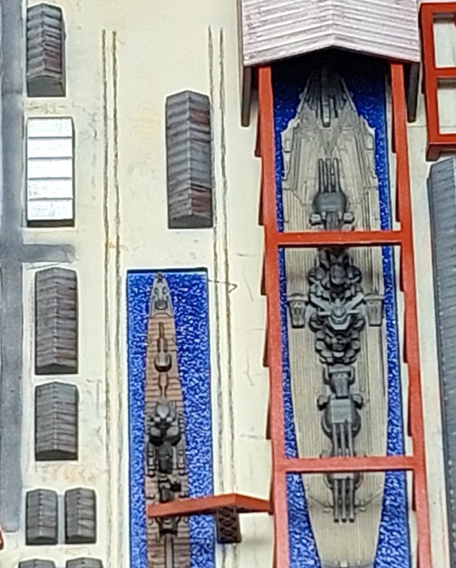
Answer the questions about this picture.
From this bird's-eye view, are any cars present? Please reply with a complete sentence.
No, the scene contains no car.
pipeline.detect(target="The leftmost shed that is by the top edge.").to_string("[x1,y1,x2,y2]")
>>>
[27,4,63,95]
